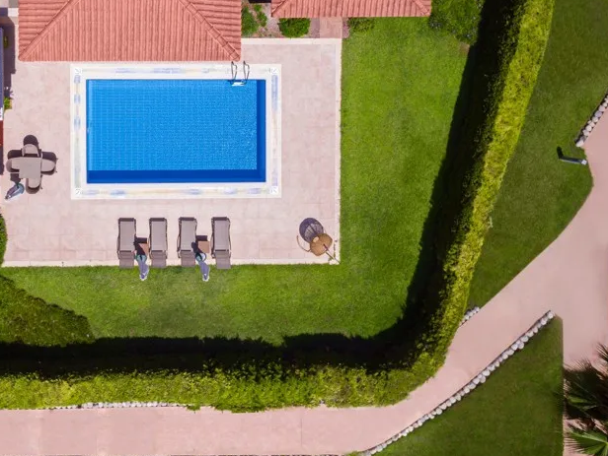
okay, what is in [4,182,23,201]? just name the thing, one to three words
umbrella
